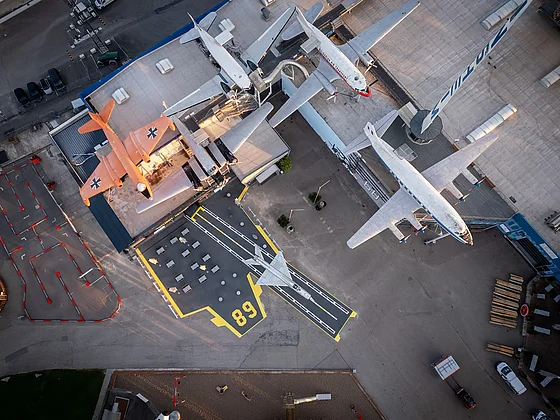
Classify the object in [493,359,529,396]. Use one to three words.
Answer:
car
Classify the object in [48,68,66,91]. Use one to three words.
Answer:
car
